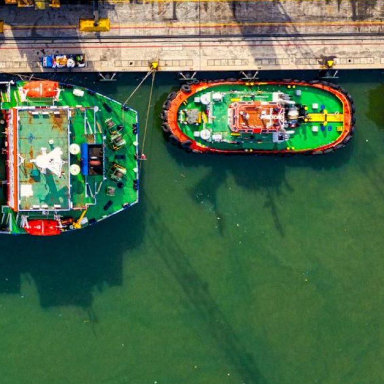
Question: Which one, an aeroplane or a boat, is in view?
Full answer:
It is a boat that can be seen here.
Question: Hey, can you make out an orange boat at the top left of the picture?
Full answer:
Yes, an orange boat shows up at the top left of the picture.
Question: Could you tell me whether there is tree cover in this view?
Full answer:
No, the scene doesn't show any tree cover.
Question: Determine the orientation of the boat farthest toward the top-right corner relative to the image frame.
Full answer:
The boat farthest toward the top-right corner runs from left to right in the image.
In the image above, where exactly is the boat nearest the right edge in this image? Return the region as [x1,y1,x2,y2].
[155,77,356,156]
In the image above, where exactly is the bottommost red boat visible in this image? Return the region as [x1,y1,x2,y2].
[24,218,61,236]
